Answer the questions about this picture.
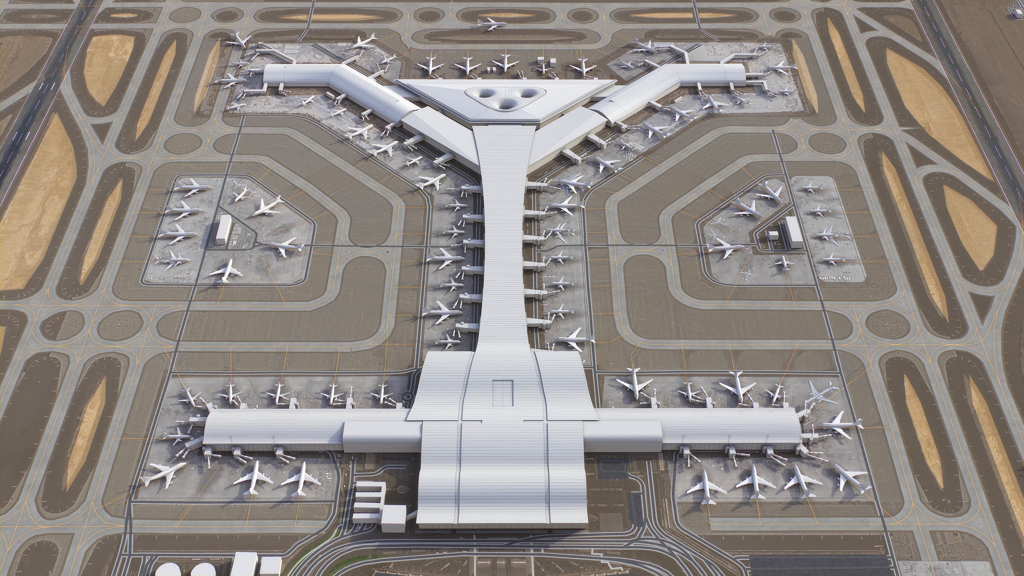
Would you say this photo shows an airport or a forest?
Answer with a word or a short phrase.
airport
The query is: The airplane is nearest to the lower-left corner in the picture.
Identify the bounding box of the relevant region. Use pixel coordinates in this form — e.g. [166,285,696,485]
[140,462,186,488]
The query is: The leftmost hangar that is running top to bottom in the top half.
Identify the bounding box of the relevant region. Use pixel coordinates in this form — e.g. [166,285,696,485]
[216,215,232,245]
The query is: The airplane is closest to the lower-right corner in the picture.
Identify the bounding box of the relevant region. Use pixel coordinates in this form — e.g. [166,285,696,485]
[832,463,873,492]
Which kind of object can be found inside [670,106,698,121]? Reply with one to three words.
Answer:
airplane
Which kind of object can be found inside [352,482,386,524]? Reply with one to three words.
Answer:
building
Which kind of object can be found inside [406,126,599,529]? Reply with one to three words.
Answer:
building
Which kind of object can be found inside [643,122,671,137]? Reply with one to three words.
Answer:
airplane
